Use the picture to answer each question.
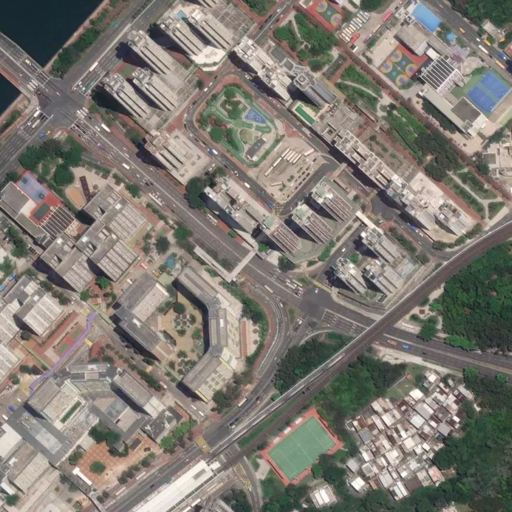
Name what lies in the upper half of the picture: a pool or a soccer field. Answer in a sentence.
It is a pool that can be seen in the upper half of the picture.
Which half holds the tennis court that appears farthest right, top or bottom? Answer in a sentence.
The top half of the photo is where the tennis court that appears farthest right is.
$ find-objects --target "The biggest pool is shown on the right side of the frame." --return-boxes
[414,4,442,34]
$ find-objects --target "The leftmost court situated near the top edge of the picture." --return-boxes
[308,0,345,33]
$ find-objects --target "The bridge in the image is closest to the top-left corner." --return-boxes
[0,30,51,98]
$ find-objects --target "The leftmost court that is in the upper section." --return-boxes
[16,170,66,225]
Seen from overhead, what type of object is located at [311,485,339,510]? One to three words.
house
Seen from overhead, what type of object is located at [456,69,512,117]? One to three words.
tennis court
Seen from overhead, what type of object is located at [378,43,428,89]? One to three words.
sports court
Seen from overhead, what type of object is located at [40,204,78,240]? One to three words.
building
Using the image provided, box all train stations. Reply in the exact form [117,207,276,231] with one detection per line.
[129,459,222,512]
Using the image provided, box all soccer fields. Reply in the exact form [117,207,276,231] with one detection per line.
[262,406,344,484]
